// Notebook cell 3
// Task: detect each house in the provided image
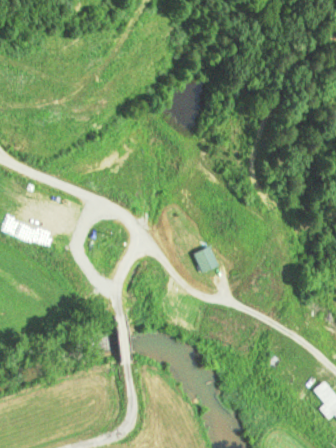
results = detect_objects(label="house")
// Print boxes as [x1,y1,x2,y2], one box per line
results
[314,382,336,420]
[194,247,218,273]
